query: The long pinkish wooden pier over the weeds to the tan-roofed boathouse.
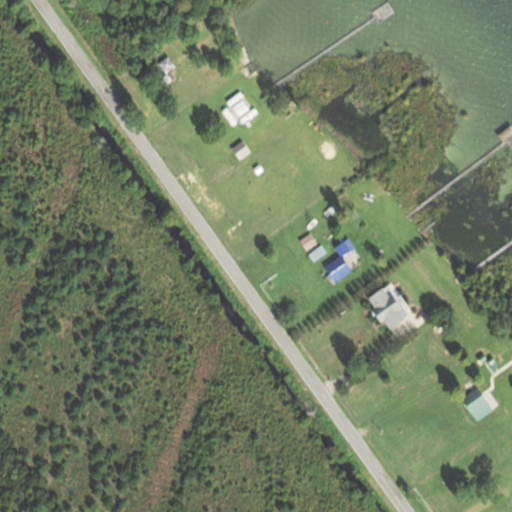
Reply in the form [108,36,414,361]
[406,140,512,218]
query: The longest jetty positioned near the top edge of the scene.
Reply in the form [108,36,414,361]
[274,3,394,85]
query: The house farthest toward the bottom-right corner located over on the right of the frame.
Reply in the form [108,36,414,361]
[462,382,494,422]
